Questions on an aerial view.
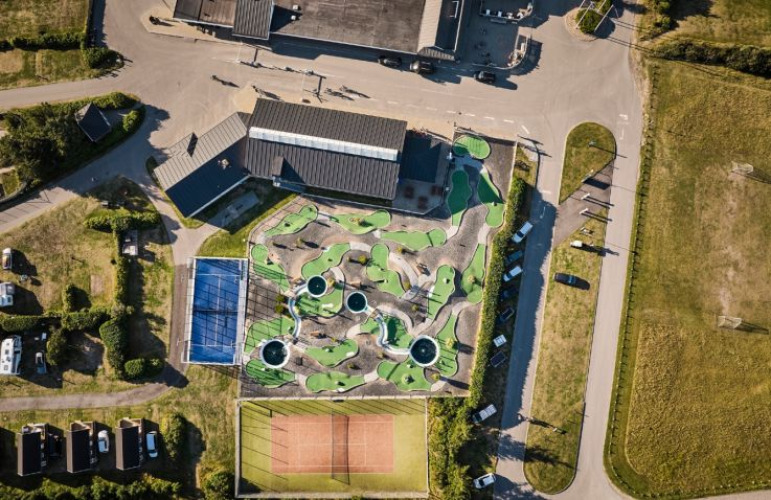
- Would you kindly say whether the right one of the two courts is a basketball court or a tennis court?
tennis court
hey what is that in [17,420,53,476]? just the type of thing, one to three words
building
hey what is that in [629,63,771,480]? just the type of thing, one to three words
soccer field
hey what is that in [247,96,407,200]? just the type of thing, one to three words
building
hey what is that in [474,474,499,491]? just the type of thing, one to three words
car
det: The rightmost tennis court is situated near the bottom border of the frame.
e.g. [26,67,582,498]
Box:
[236,397,434,498]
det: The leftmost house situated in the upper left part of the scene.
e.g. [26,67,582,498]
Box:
[75,102,116,142]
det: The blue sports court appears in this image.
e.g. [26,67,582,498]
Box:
[176,258,248,368]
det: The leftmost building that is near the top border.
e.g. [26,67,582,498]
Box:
[173,0,237,32]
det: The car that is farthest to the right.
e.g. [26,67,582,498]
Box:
[553,272,579,285]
